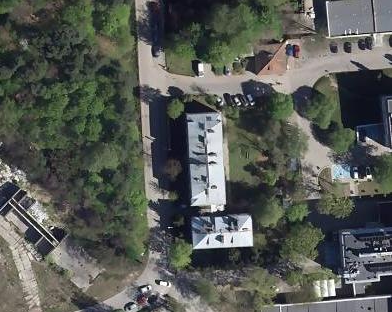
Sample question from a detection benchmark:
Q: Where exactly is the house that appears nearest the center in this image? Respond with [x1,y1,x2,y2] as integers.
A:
[186,112,226,211]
